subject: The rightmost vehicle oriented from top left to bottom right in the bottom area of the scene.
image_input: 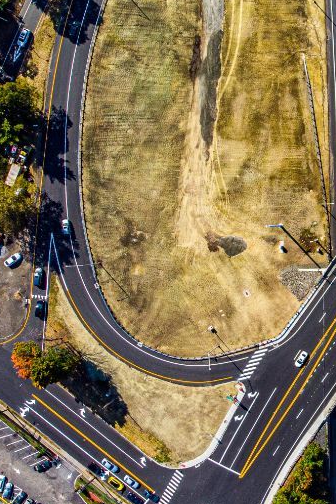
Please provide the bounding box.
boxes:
[140,488,161,504]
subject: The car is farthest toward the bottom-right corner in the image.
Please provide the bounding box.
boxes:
[293,351,307,367]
